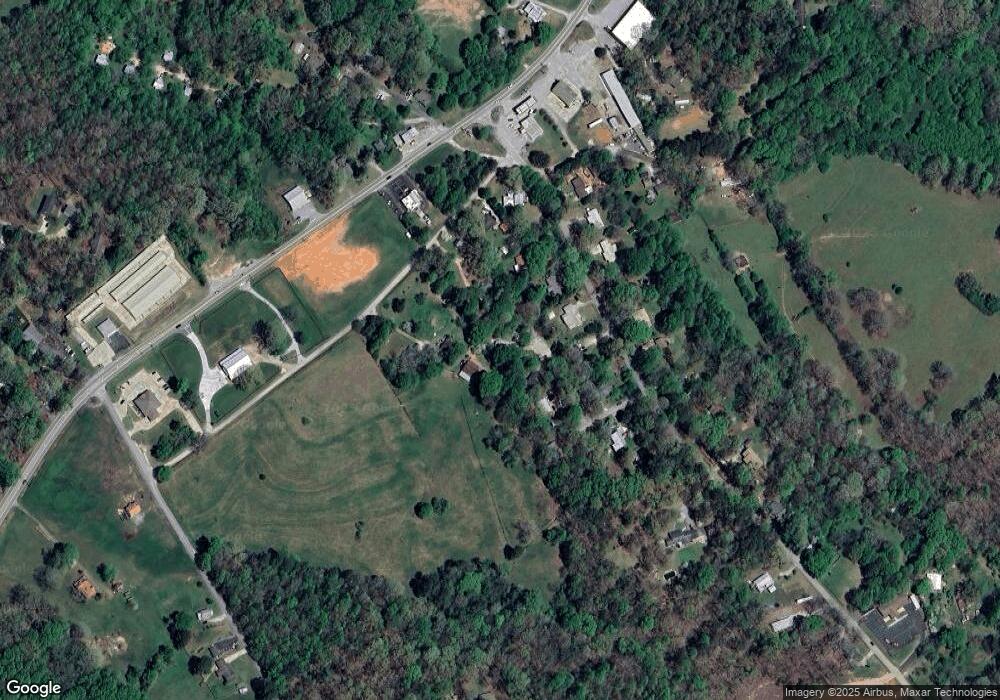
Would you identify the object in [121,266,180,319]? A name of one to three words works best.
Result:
building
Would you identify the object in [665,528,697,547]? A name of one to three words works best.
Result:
house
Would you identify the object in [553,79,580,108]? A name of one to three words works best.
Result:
building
